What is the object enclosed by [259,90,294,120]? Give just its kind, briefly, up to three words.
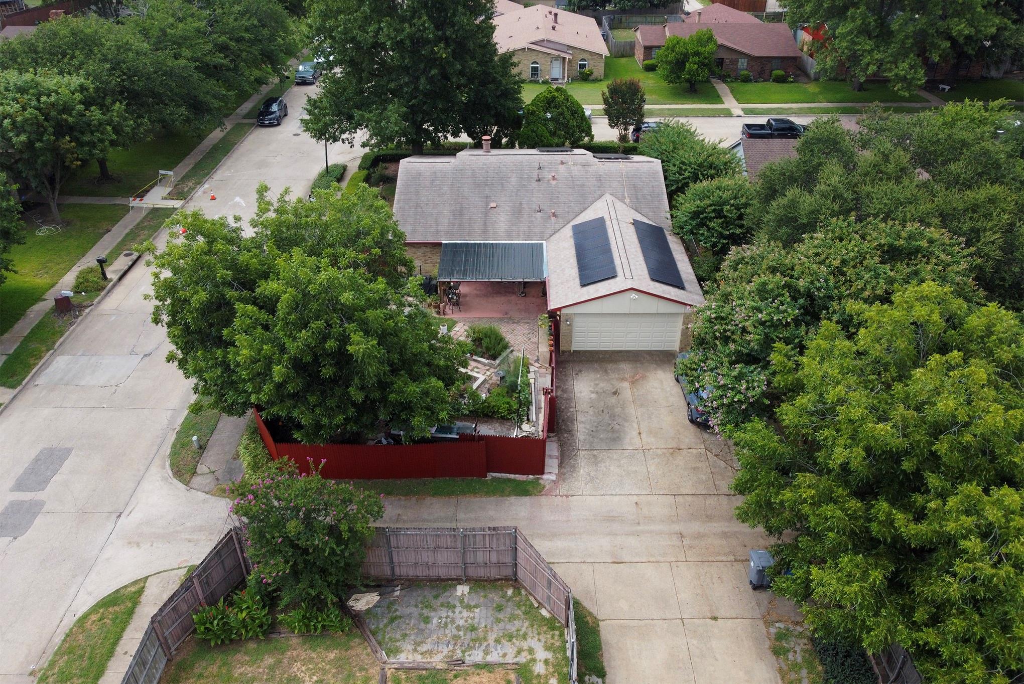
car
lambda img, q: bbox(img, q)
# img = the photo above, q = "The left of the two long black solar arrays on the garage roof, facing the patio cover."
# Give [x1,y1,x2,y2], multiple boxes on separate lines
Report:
[570,214,617,286]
